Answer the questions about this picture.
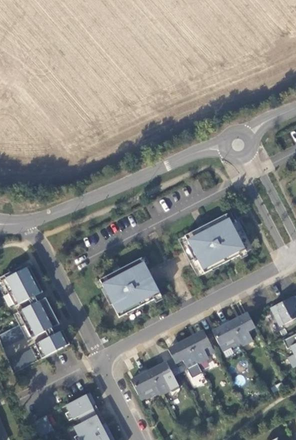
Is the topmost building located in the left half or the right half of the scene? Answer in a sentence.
It is on the right.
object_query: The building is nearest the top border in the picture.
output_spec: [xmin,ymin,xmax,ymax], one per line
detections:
[180,214,252,276]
